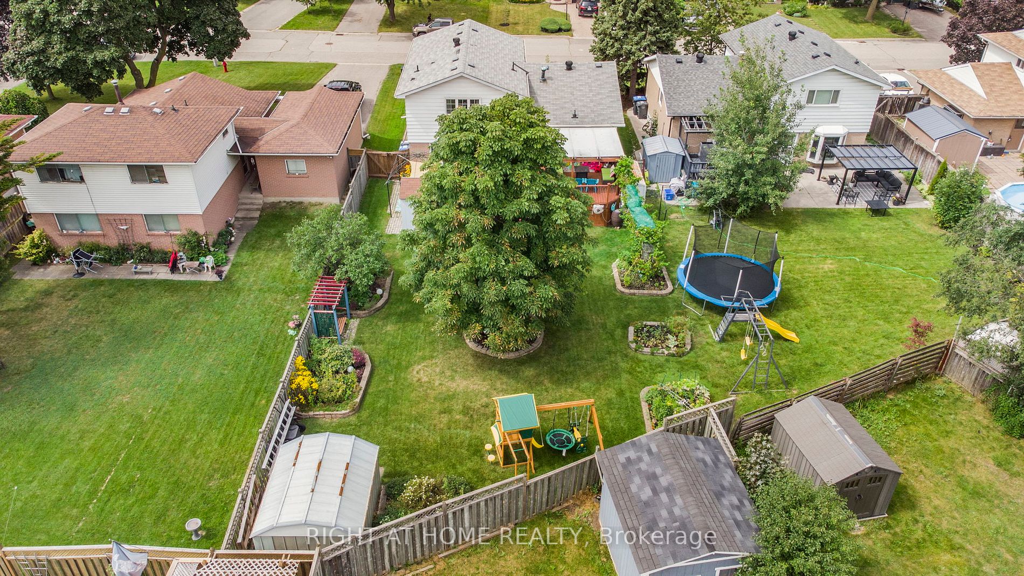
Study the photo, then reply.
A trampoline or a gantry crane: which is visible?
trampoline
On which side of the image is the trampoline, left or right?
right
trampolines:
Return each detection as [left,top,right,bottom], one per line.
[677,217,784,320]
